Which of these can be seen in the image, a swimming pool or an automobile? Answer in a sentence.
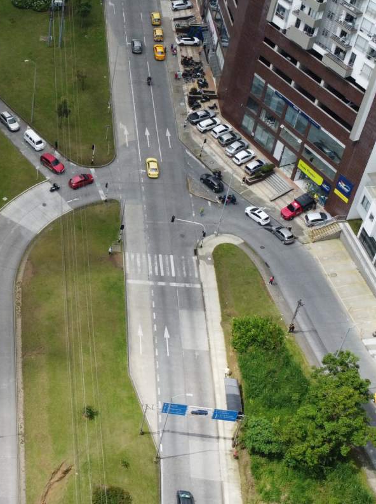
Visible in the photo is an automobile.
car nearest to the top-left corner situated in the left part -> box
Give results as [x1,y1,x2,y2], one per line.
[0,111,19,131]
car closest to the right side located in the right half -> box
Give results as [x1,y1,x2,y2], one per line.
[300,210,330,223]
